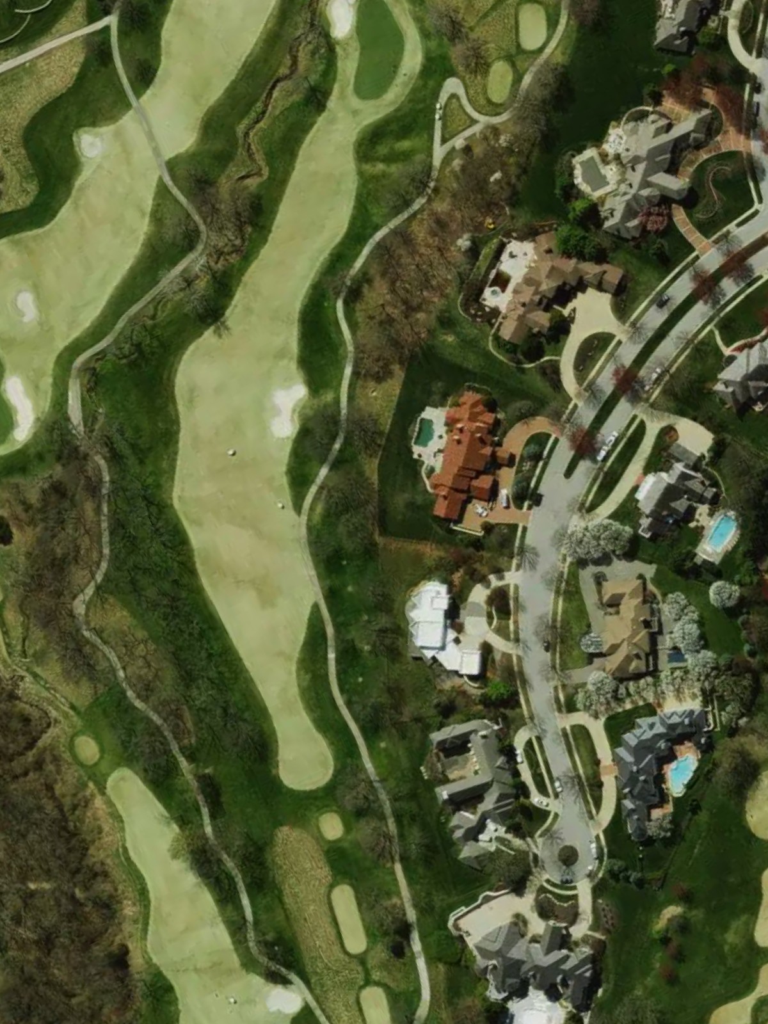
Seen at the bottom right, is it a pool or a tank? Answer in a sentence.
Visible at the bottom right is a pool.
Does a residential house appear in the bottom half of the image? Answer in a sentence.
Yes, there is a residential house in the bottom half of the image.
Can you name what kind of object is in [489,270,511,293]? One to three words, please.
swimming pool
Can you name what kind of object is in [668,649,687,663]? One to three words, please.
swimming pool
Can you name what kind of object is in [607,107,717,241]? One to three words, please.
house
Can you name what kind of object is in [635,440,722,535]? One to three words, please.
house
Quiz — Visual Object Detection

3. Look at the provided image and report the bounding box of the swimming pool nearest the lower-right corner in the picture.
[670,754,699,796]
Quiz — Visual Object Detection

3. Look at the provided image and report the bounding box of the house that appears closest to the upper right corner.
[648,0,719,56]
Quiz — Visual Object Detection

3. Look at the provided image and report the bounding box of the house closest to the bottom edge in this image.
[471,916,598,1014]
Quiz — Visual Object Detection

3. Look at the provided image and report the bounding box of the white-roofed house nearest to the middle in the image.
[409,579,482,676]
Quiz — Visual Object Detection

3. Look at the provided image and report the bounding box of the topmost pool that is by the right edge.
[695,511,741,561]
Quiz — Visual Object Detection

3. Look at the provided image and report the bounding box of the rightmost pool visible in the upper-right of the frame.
[579,156,608,192]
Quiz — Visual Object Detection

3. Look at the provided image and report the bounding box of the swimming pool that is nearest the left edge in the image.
[414,418,435,446]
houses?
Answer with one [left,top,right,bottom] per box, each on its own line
[498,232,628,347]
[611,708,714,844]
[607,107,717,241]
[648,0,719,56]
[429,388,512,523]
[595,576,653,684]
[428,714,518,873]
[409,579,482,676]
[471,916,598,1014]
[635,440,722,535]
